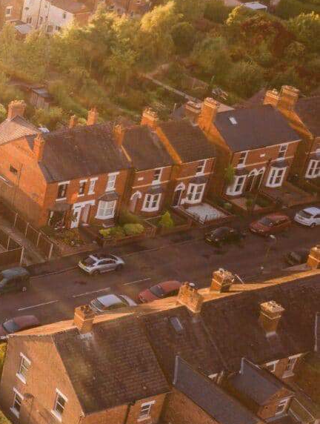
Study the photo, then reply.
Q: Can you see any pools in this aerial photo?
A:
No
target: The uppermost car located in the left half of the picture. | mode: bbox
[75,252,125,279]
